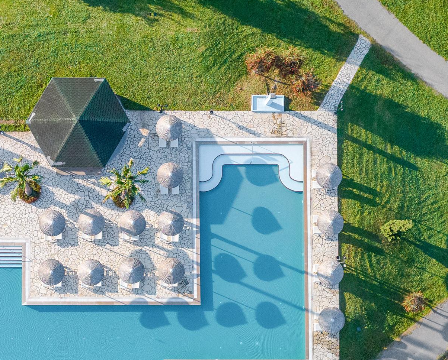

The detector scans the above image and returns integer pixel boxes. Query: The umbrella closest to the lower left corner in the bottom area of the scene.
[38,258,65,285]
